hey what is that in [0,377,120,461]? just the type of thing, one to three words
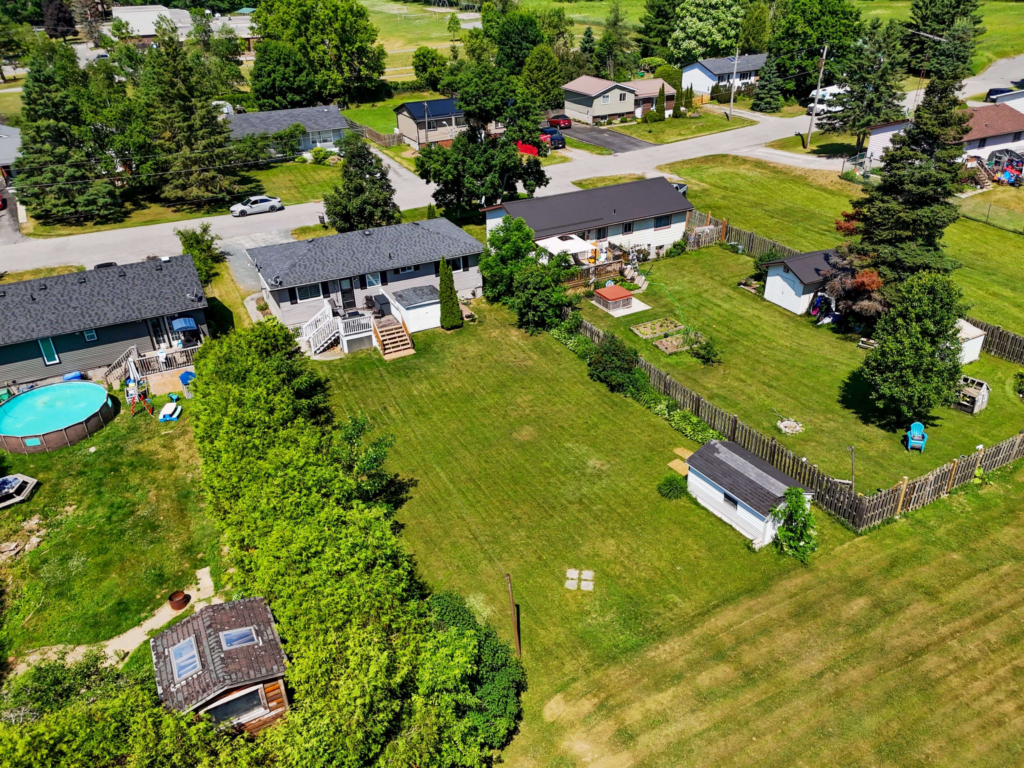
swimming pool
